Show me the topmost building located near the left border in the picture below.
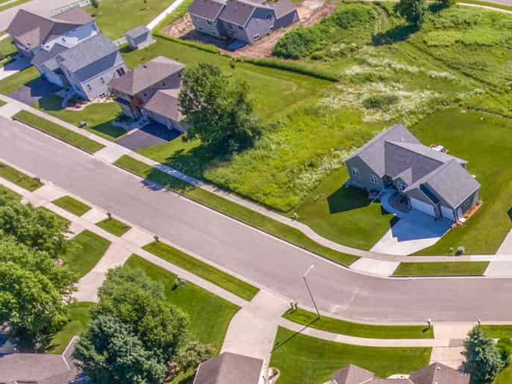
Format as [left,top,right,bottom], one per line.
[0,8,102,65]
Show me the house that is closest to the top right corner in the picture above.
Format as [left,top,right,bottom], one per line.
[344,117,487,223]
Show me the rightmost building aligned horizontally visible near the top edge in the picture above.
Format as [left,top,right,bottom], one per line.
[189,0,298,52]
